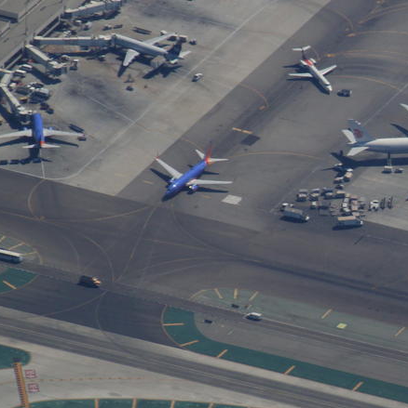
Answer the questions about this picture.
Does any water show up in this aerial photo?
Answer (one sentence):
No, the picture contains no water.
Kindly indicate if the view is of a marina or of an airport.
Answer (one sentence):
It's an airport.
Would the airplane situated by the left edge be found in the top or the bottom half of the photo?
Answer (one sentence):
It is in the top half that the airplane situated by the left edge appears.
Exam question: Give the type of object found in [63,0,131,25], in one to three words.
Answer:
jet bridge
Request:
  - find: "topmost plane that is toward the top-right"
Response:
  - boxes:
[288,49,335,94]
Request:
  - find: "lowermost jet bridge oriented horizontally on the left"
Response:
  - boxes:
[31,33,120,52]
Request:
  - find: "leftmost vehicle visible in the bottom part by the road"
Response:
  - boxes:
[0,245,23,261]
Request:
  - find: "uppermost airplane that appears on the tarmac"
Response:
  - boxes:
[117,33,188,64]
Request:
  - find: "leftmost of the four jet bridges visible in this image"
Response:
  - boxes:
[0,65,29,124]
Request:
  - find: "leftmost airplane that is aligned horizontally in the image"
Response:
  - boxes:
[0,112,85,148]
